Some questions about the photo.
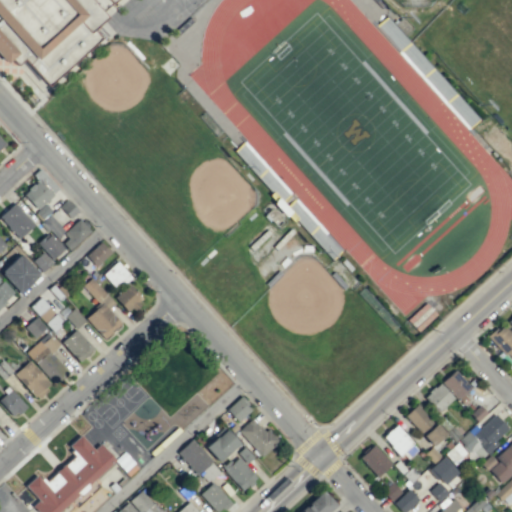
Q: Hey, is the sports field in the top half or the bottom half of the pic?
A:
top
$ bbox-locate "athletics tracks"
[190,0,511,316]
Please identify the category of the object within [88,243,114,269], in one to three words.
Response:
house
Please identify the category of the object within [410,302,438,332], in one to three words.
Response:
building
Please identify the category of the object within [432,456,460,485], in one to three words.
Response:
house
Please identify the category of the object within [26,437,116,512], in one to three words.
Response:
building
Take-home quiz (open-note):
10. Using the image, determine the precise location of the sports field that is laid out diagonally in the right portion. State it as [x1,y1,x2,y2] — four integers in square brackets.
[226,0,492,276]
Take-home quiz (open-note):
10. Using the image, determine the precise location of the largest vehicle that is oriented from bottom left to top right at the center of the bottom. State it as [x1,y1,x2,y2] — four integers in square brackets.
[270,478,292,499]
